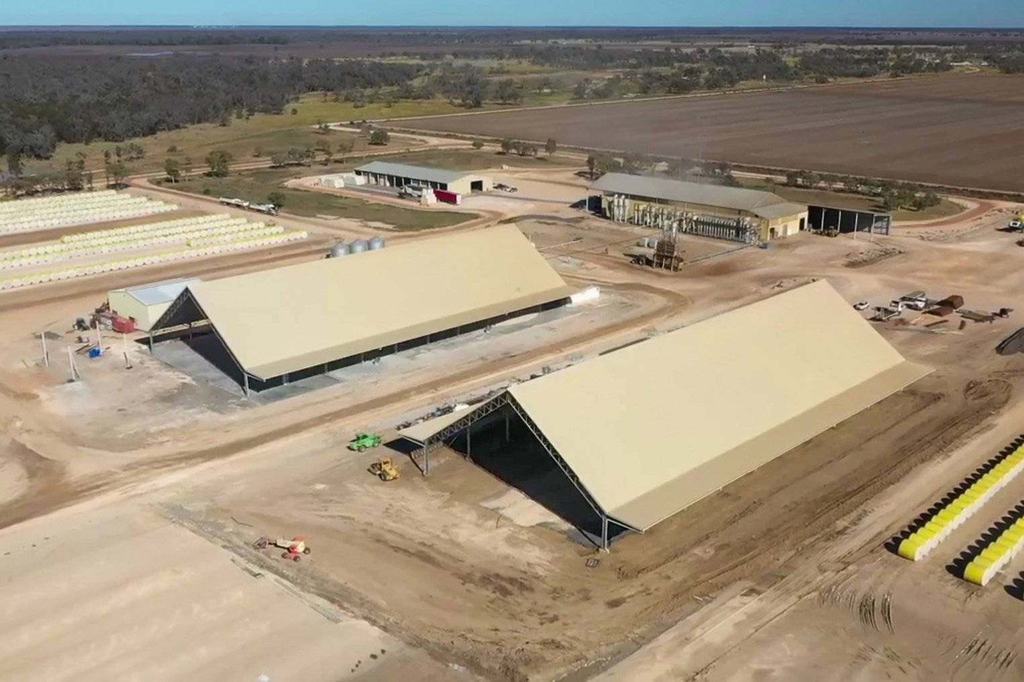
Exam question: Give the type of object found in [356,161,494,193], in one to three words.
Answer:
shed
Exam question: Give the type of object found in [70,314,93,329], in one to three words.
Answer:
work vehicle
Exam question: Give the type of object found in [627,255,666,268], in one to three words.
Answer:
vehicle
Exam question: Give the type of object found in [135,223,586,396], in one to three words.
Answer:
shed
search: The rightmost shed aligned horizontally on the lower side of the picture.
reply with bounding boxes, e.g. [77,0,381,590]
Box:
[395,280,940,555]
